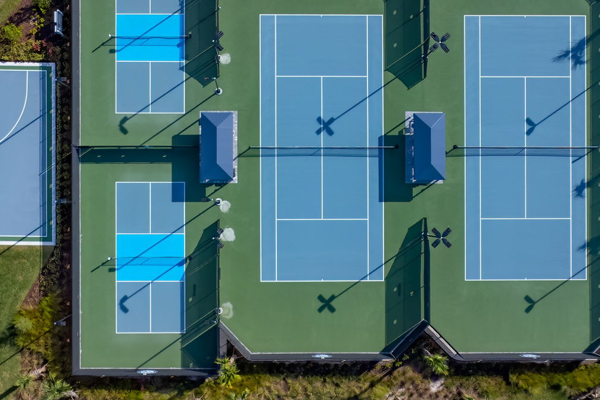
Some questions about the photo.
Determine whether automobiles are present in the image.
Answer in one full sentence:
No, there's no automobile here.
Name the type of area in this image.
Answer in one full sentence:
This looks like a sports ground.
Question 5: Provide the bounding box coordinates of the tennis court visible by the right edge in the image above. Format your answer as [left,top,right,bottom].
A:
[424,0,600,353]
